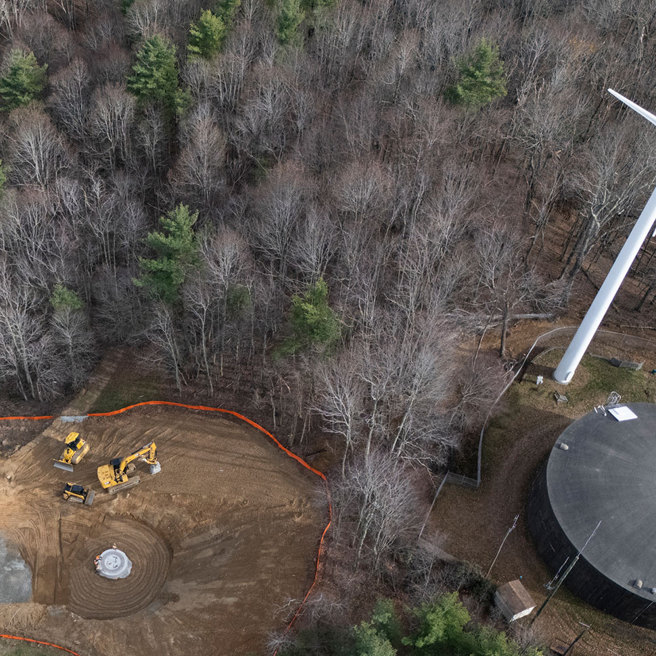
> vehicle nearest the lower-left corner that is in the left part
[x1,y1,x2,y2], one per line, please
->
[61,480,95,507]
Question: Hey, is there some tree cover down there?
Yes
